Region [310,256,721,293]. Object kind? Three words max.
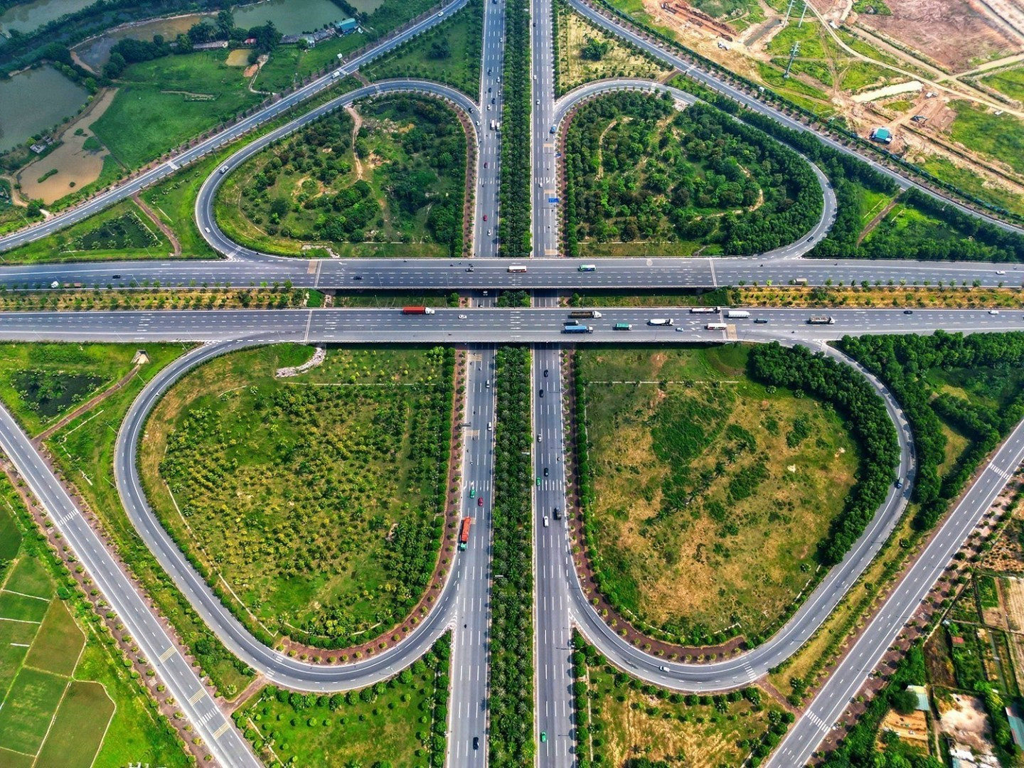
bridge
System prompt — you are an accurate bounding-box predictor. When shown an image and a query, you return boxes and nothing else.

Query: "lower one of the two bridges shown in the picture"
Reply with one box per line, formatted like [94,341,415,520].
[303,307,728,346]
